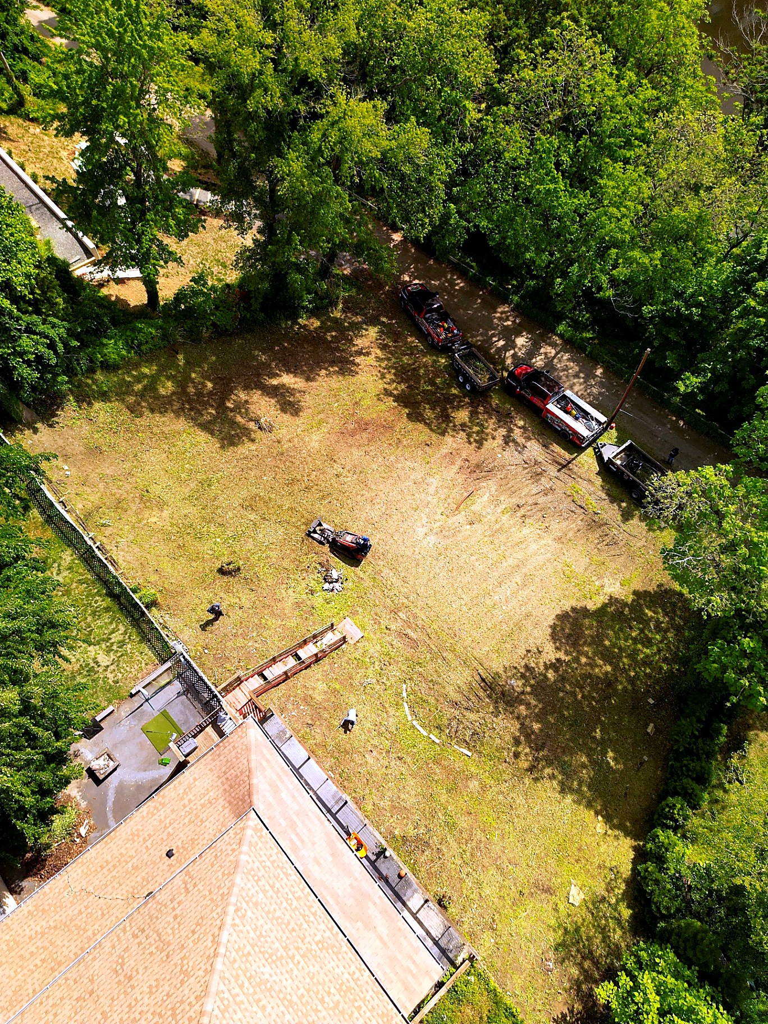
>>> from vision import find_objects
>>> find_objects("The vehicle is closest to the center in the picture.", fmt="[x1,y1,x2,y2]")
[305,520,363,561]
